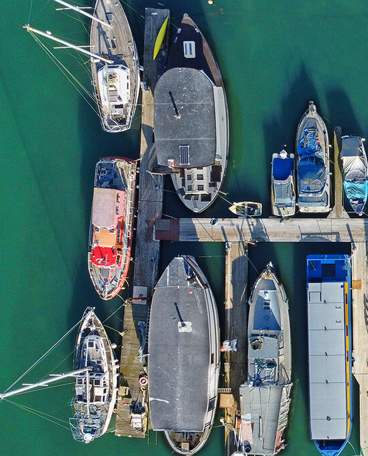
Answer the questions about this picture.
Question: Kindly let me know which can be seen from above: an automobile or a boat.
boat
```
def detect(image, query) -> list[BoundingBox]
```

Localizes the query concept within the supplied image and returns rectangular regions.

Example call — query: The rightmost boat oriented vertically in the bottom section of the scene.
[308,256,358,456]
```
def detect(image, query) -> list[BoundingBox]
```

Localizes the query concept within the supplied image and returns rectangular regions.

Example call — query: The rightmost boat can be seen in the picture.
[341,136,368,217]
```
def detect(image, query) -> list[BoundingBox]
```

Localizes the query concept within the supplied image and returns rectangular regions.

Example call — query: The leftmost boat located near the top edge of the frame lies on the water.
[24,0,148,135]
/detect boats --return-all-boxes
[85,157,142,302]
[292,100,336,220]
[341,136,368,217]
[228,202,263,216]
[24,0,148,135]
[148,14,236,213]
[308,256,358,456]
[271,144,298,219]
[240,257,293,456]
[142,256,225,456]
[0,305,124,447]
